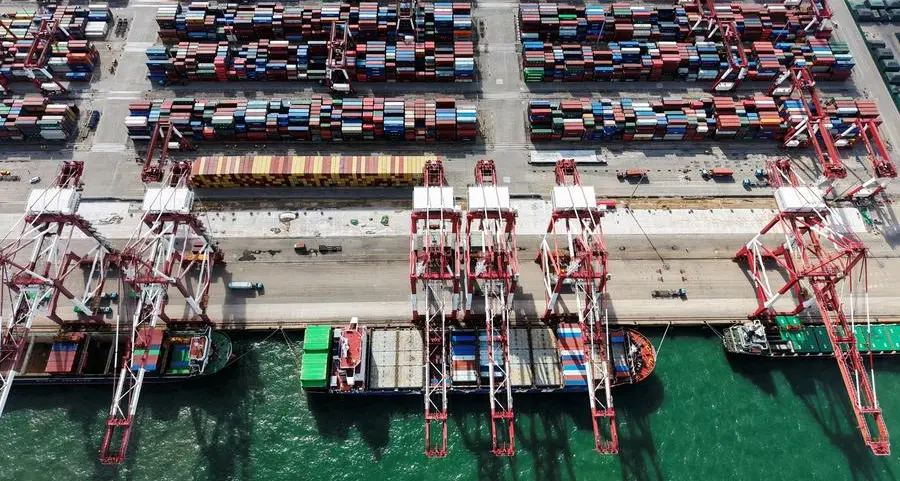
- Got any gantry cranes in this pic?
Yes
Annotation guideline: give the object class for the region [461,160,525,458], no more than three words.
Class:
container crane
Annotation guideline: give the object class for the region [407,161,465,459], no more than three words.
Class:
container crane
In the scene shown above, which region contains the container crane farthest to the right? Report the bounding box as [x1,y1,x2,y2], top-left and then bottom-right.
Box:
[824,118,891,197]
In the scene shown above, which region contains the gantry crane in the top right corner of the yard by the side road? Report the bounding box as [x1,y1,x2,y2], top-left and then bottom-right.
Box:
[781,0,835,42]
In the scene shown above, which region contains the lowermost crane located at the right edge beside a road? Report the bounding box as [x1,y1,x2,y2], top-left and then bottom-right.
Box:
[731,159,890,452]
